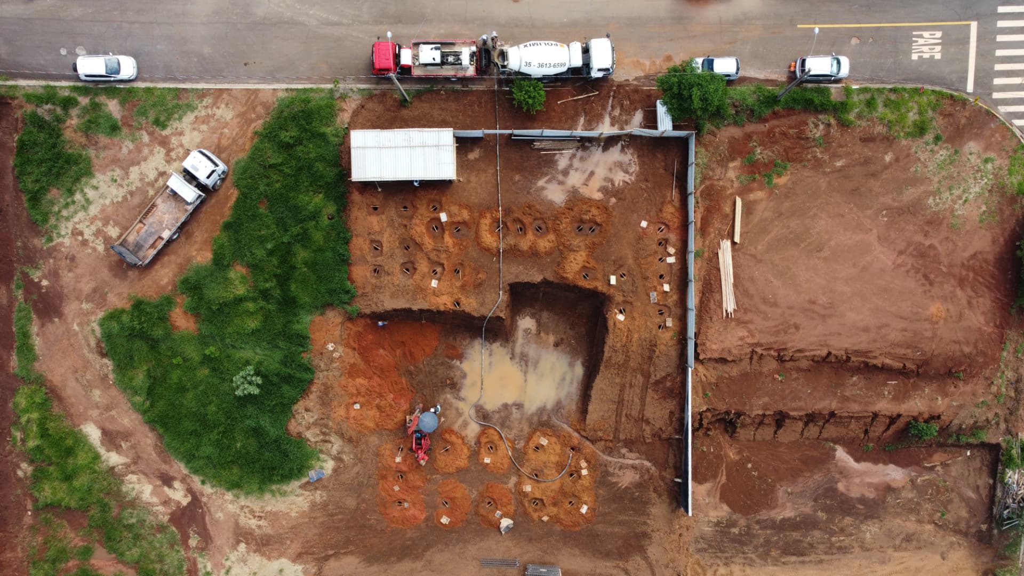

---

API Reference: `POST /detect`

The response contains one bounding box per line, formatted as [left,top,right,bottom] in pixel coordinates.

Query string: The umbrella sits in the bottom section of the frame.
[419,412,438,431]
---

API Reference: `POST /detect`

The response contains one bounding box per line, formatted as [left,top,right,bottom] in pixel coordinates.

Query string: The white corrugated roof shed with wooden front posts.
[351,128,469,186]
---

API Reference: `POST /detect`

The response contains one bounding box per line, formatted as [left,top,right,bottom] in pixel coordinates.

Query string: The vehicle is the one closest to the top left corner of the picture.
[74,52,141,82]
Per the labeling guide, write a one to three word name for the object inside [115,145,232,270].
truck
